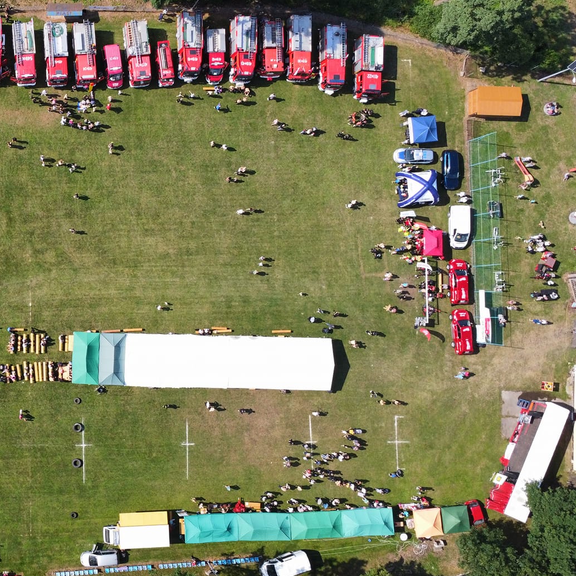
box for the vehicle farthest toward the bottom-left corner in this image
[80,543,118,569]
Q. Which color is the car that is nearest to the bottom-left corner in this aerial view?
white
